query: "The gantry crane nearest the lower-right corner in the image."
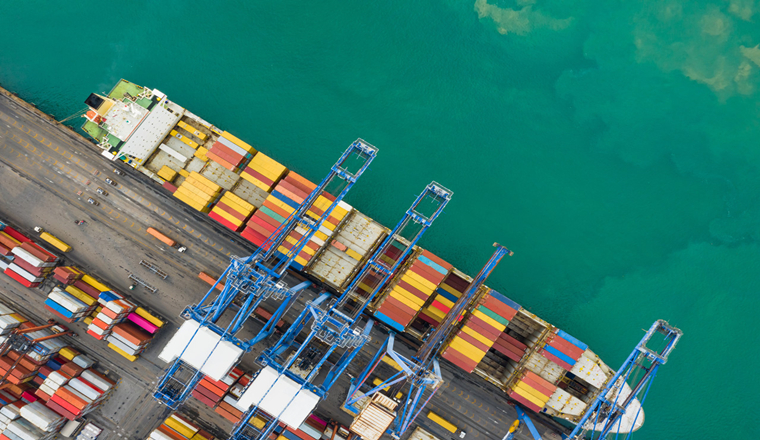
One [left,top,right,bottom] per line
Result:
[499,323,686,440]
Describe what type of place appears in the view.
port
